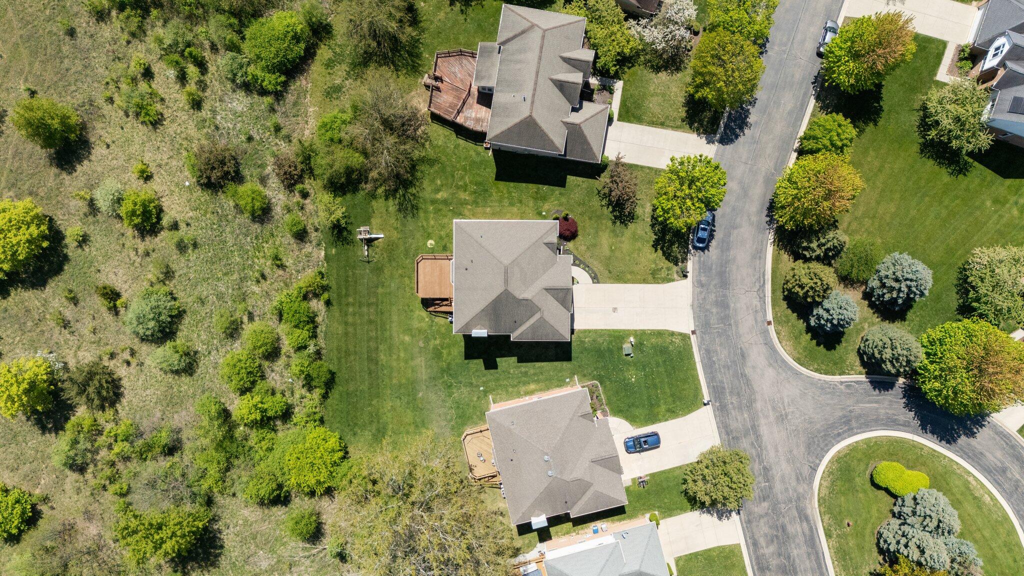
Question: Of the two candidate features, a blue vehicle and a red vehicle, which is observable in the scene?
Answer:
blue vehicle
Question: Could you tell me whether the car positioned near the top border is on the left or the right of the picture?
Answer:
right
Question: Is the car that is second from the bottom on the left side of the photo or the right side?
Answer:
right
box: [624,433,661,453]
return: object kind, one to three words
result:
car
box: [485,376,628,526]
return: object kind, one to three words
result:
house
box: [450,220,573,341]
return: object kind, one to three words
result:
house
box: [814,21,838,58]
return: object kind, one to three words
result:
car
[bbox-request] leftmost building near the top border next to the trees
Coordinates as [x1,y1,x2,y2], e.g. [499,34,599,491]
[473,3,611,165]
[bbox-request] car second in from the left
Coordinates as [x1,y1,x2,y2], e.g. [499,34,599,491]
[692,212,715,248]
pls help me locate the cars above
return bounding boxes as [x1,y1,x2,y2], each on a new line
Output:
[624,433,661,453]
[814,21,838,58]
[692,212,715,248]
